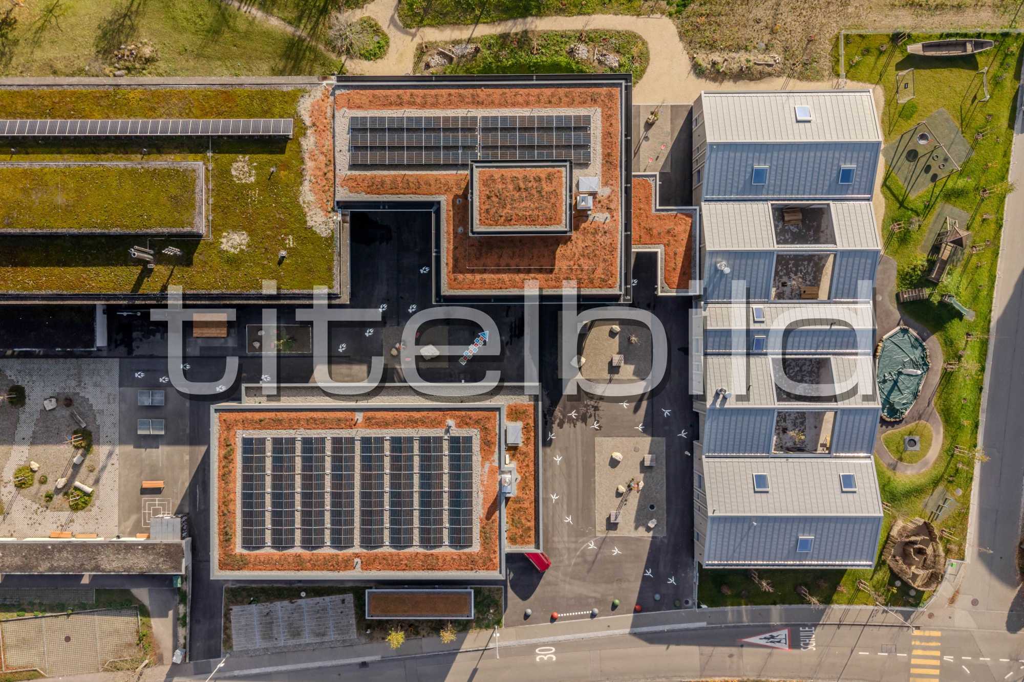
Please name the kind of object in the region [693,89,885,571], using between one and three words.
building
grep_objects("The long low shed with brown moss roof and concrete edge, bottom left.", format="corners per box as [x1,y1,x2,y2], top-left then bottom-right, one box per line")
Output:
[0,538,186,575]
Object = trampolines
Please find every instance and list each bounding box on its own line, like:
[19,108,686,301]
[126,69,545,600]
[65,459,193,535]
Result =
[905,436,920,450]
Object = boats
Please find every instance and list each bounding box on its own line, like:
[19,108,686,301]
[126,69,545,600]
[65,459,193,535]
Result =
[907,39,994,55]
